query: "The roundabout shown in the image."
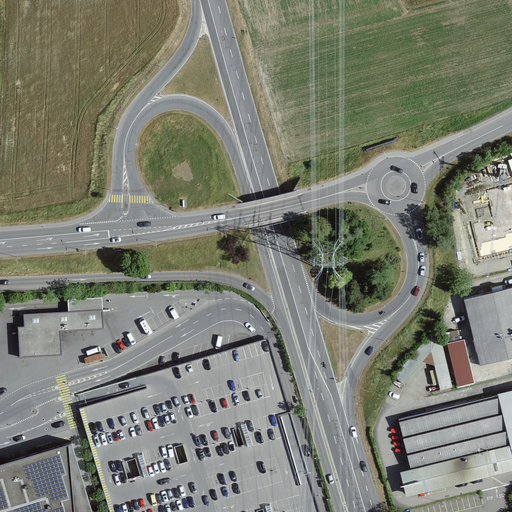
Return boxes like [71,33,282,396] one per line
[367,156,425,214]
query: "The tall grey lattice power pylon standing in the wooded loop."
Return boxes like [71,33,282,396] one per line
[304,241,352,280]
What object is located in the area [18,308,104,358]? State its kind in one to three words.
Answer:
building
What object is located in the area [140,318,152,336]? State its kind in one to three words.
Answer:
vehicle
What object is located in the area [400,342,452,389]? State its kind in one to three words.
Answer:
shed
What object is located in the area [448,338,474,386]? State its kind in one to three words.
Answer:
building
